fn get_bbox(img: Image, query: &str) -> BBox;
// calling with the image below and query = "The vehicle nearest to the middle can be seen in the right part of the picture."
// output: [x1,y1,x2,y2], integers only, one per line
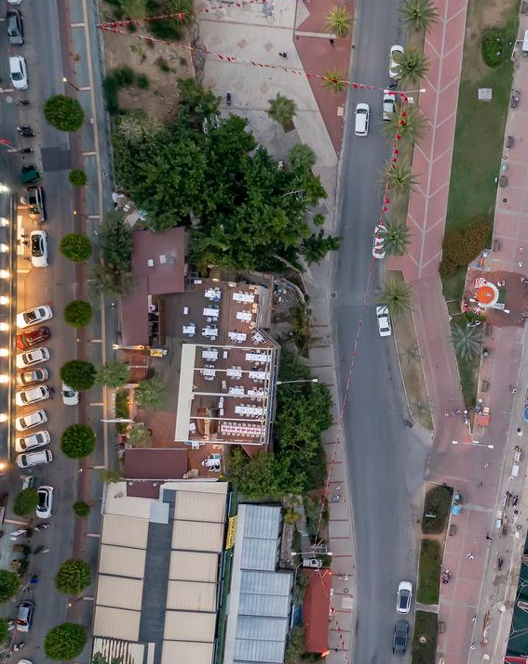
[375,303,392,338]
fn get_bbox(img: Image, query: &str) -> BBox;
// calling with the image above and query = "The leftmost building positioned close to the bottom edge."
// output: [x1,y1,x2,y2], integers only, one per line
[92,479,235,664]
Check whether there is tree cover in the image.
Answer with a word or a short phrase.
Yes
